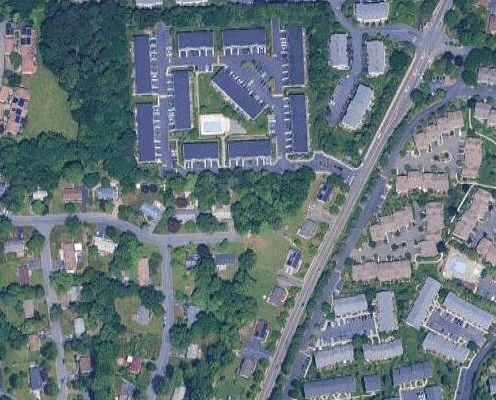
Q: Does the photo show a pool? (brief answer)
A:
Yes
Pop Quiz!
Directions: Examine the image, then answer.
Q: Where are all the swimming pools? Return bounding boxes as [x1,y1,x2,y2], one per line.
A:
[444,250,483,285]
[199,114,229,136]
